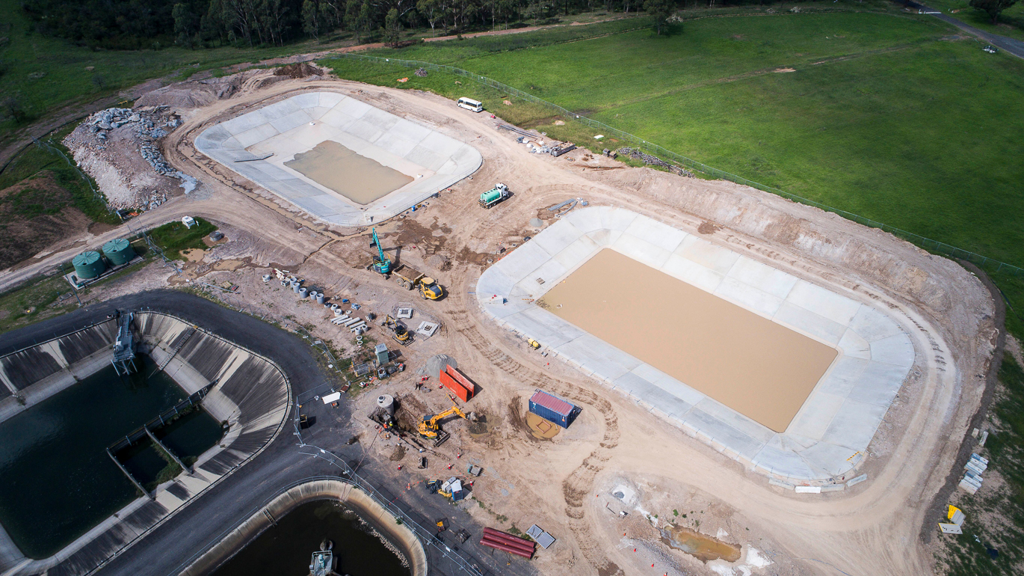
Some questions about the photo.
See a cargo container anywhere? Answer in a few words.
Yes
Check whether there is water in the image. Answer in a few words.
Yes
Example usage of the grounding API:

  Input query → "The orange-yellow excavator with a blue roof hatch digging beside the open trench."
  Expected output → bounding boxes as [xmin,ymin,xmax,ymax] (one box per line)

[416,404,471,452]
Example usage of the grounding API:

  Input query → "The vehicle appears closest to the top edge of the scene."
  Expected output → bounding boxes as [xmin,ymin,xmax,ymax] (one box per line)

[460,96,486,112]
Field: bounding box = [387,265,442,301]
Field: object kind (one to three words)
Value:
truck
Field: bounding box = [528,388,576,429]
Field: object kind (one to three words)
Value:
shipping container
